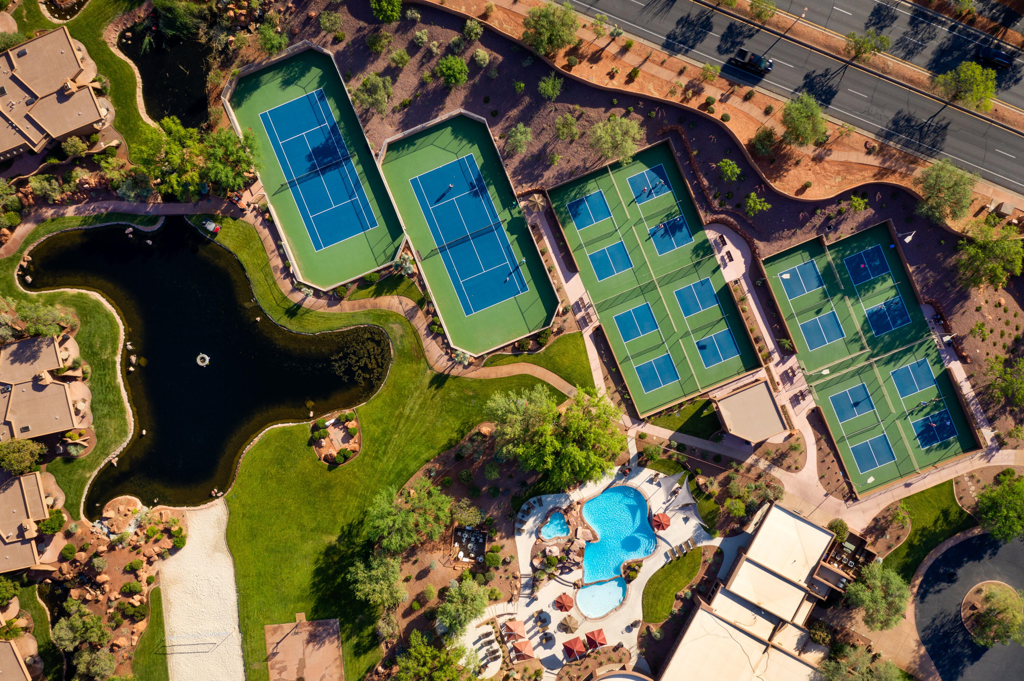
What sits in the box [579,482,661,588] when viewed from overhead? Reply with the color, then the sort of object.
blue swimming pool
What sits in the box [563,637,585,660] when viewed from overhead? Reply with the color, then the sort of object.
red umbrella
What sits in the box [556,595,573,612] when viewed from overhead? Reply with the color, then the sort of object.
red umbrella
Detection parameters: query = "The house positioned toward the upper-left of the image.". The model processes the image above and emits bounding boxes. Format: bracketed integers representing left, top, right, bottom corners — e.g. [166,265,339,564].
[0,25,113,160]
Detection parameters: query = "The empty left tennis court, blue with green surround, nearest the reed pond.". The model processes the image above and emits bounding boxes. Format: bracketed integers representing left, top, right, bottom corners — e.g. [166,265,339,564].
[227,45,406,290]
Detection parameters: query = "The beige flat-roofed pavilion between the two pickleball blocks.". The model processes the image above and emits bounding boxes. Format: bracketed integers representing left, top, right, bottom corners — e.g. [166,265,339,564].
[709,378,787,443]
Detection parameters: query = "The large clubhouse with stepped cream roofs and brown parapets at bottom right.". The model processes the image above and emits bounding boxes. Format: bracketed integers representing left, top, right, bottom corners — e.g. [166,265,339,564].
[652,500,853,681]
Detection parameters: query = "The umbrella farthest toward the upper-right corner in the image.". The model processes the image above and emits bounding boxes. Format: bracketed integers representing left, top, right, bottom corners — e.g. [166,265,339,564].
[529,194,546,211]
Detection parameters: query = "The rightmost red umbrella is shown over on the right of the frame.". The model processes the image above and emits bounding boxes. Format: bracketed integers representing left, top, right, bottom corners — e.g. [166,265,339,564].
[653,514,670,530]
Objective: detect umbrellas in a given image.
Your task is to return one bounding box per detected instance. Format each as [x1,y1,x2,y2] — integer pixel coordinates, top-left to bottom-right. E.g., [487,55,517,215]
[563,637,585,660]
[529,194,546,211]
[502,621,525,640]
[585,629,607,651]
[653,514,670,530]
[509,641,534,662]
[561,617,578,633]
[556,595,573,612]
